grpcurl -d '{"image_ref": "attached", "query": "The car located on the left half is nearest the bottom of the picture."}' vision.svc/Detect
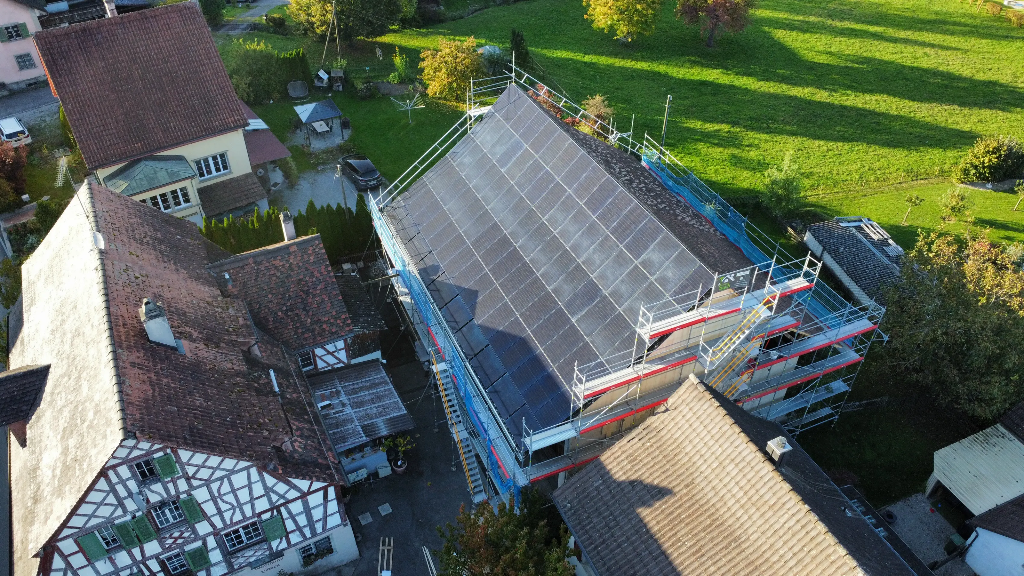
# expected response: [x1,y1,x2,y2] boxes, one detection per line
[338,152,379,189]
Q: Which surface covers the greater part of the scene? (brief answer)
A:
buildings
